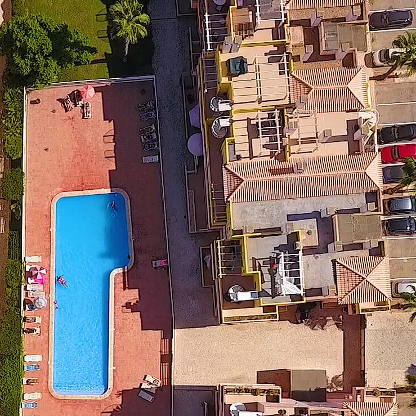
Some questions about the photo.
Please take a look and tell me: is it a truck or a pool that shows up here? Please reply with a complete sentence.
The one in the frame is a pool.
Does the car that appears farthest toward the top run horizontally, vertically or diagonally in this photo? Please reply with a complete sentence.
I'd say the car that appears farthest toward the top is aligned horizontally in the picture.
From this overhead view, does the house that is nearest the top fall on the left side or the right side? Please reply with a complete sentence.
The house that is nearest the top appears in the right half of the scene.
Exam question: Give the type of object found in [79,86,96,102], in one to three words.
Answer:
umbrella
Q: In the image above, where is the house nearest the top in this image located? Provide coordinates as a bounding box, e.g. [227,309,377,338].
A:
[176,0,382,178]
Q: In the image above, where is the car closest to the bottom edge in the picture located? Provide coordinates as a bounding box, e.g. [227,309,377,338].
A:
[393,280,416,297]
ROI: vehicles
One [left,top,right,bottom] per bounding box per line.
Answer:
[381,163,416,183]
[368,8,413,31]
[380,143,416,163]
[374,46,414,68]
[381,122,416,144]
[393,280,416,297]
[385,194,416,214]
[386,215,416,235]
